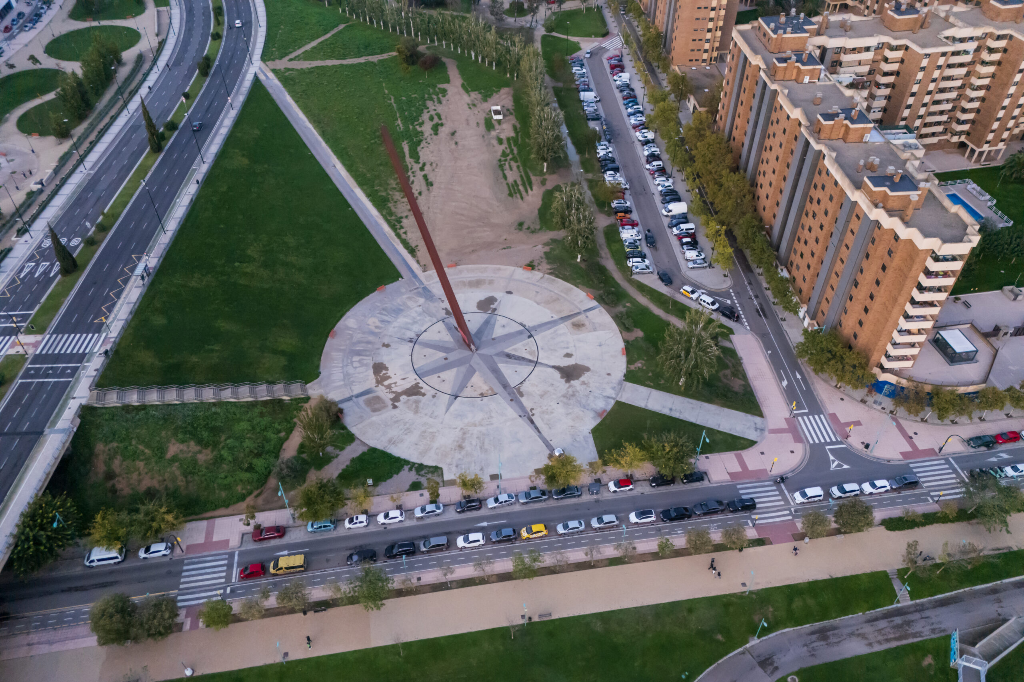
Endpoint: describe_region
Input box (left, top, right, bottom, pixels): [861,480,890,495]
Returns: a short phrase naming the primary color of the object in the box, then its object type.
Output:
white car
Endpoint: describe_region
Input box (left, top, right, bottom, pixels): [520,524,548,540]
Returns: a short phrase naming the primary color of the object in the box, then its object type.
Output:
yellow car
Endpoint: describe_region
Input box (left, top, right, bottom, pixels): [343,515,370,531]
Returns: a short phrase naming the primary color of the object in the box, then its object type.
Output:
white car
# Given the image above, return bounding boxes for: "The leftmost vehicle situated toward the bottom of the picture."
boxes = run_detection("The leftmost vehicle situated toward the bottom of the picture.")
[84,544,127,568]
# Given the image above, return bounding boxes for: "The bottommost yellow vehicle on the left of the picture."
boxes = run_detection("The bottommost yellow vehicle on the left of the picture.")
[271,554,307,576]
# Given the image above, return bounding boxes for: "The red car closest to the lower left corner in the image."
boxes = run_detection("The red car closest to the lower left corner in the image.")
[241,563,271,579]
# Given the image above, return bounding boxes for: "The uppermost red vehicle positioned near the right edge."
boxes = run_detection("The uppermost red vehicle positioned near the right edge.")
[994,431,1022,445]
